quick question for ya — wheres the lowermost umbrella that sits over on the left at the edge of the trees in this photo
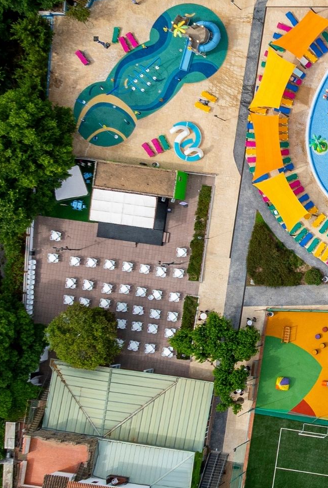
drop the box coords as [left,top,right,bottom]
[57,165,89,201]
